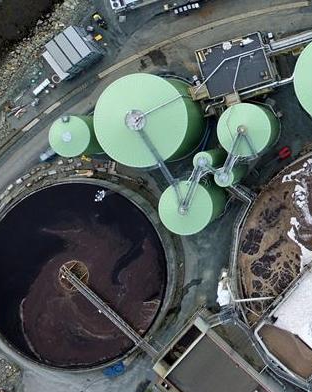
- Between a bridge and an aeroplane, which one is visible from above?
bridge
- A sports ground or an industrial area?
industrial area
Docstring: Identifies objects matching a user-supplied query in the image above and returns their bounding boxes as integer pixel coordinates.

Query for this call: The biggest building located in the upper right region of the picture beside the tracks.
[194,31,277,100]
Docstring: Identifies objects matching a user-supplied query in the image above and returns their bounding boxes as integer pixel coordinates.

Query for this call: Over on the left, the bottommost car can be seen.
[40,147,58,161]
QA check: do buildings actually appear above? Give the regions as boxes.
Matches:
[43,25,104,81]
[194,31,277,100]
[163,329,273,392]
